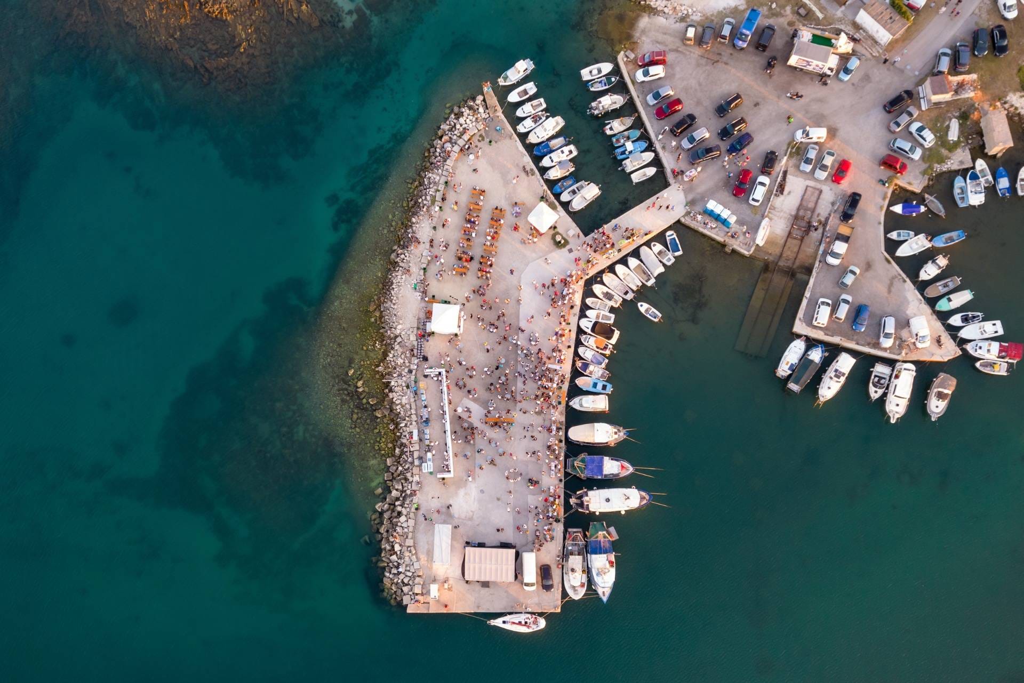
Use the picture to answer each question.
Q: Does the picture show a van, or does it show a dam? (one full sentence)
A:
The image shows a van.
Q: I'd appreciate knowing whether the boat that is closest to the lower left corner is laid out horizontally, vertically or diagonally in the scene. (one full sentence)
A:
In this picture, the boat that is closest to the lower left corner is oriented horizontally.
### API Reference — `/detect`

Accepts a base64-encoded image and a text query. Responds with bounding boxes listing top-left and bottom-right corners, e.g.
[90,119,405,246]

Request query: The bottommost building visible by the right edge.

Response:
[971,101,1013,168]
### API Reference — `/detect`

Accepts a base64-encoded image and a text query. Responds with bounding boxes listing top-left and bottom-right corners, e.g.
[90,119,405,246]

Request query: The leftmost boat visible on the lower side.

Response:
[462,612,551,632]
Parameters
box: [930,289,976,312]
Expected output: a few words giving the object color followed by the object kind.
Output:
white boat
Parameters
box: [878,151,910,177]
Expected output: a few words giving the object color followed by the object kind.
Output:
red car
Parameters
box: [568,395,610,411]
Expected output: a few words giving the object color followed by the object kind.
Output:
white boat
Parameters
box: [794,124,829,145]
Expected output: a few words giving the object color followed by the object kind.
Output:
white vehicle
